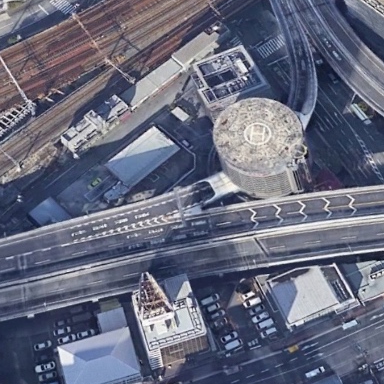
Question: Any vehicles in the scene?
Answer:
Yes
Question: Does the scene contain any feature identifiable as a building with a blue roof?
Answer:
Yes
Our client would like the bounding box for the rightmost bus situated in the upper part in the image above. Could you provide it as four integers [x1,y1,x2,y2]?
[347,97,375,129]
